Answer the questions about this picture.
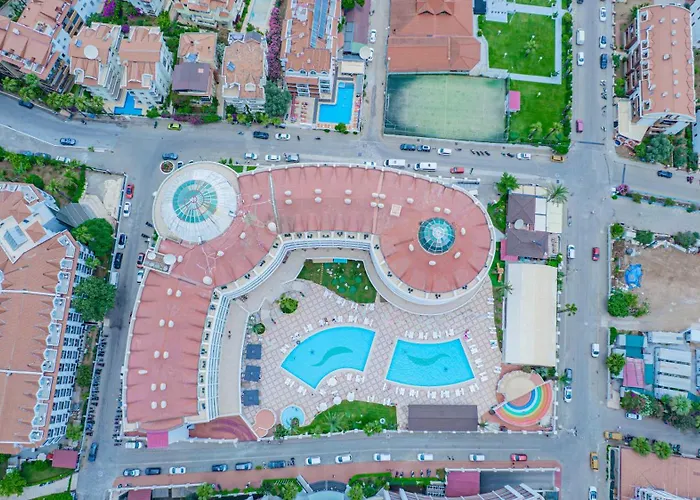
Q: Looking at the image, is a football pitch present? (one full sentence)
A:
Yes, the photo shows a football pitch.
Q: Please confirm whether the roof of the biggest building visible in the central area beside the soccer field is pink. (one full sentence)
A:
Yes, the roof of the biggest building visible in the central area beside the soccer field is pink.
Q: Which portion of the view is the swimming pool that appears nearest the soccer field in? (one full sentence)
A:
Look in the top portion of the view to spot the swimming pool that appears nearest the soccer field.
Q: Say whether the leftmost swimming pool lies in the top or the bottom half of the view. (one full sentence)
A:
Seen from above, the leftmost swimming pool lies in the top half of the view.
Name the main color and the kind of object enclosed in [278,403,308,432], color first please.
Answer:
blue swimming pool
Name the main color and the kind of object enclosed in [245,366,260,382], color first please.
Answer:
blue umbrella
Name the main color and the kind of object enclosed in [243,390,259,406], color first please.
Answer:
blue umbrella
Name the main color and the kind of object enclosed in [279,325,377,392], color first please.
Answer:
blue swimming pool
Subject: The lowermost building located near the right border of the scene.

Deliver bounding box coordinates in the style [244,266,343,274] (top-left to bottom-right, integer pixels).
[615,446,700,500]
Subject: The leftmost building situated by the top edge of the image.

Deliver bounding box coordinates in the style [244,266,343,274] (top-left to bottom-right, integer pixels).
[0,0,87,100]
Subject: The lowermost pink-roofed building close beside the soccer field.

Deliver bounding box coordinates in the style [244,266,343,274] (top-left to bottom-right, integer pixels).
[119,156,496,438]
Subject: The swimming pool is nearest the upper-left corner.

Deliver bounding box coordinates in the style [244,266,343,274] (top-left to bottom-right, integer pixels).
[112,89,142,116]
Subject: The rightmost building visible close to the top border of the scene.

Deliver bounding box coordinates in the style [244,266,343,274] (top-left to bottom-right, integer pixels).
[623,2,696,133]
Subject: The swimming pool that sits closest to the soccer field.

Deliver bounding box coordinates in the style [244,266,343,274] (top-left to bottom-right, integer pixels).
[317,81,355,124]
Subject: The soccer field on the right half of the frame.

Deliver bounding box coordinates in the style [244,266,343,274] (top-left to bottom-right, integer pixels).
[385,70,510,140]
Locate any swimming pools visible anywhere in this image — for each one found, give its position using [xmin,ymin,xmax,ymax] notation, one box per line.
[278,403,308,432]
[383,335,477,389]
[317,81,355,124]
[112,89,142,116]
[279,325,377,392]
